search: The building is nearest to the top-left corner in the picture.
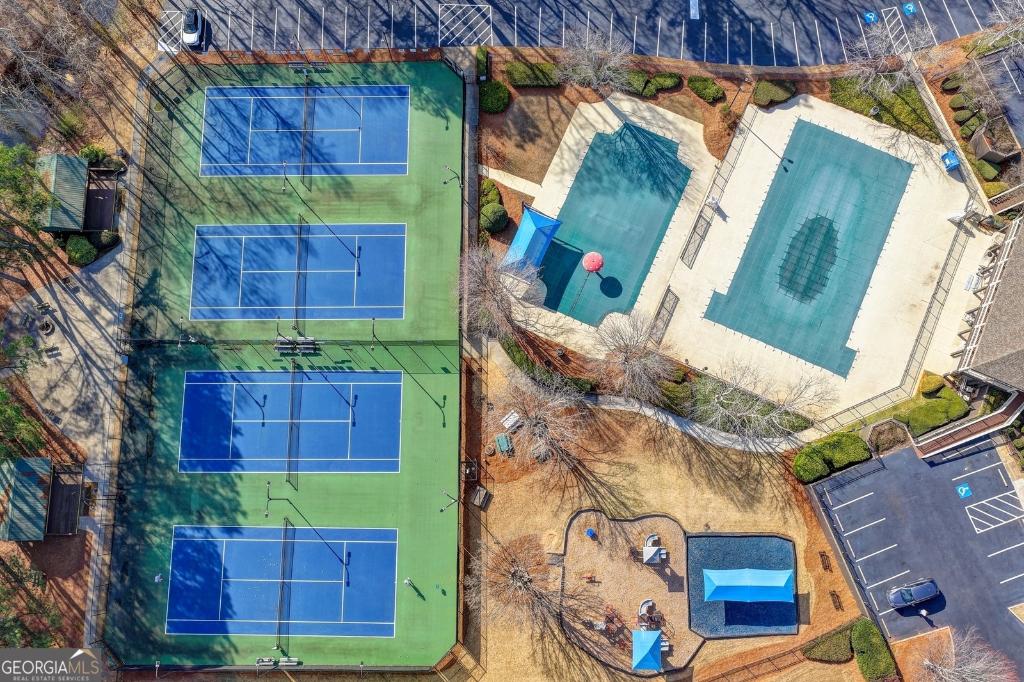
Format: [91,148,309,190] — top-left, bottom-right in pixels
[35,153,118,237]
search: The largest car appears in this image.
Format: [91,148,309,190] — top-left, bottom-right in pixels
[887,578,939,607]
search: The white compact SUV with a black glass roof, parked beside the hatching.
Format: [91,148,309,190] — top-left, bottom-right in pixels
[181,12,203,49]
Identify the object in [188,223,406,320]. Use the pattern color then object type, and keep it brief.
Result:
blue tennis court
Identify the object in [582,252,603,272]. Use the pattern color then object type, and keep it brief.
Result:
red fountain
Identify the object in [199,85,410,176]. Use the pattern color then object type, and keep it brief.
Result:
blue tennis court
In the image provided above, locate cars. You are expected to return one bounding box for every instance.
[181,12,203,49]
[887,578,939,607]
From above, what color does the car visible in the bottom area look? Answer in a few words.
blue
